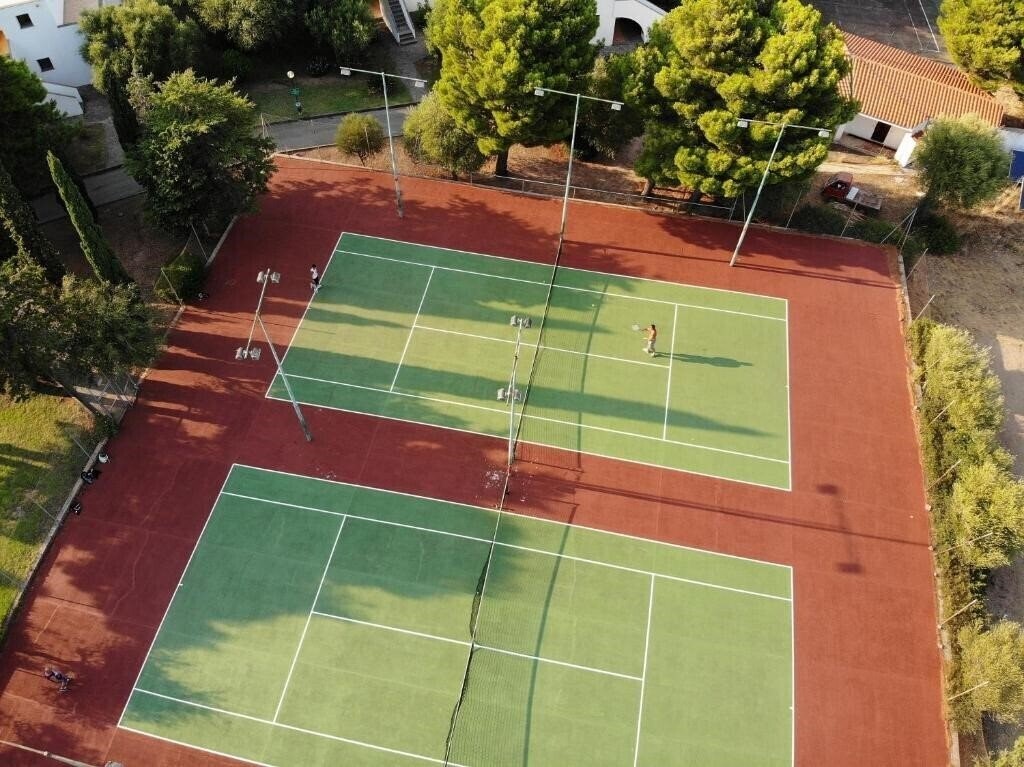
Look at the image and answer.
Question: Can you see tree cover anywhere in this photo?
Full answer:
Yes, the picture does contain tree cover.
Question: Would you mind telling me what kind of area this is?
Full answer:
The area seen from above is a sports ground.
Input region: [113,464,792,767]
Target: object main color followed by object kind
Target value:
green tennis court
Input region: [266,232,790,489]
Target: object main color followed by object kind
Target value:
green tennis court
